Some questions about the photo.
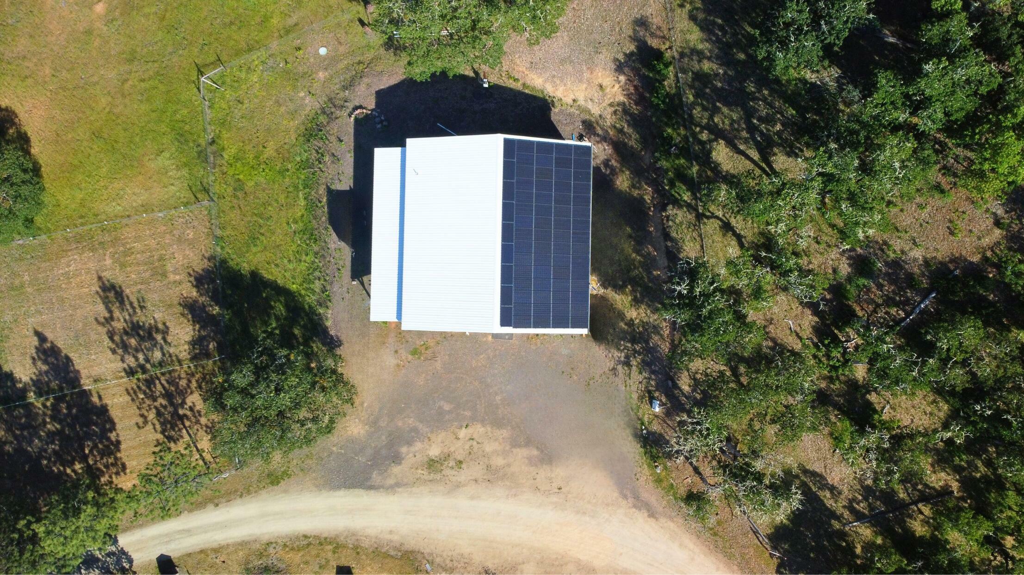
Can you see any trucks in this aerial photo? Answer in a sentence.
No, this view has no truck in it.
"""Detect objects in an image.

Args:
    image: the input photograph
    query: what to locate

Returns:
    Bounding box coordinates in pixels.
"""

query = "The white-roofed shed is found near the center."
[370,135,594,341]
